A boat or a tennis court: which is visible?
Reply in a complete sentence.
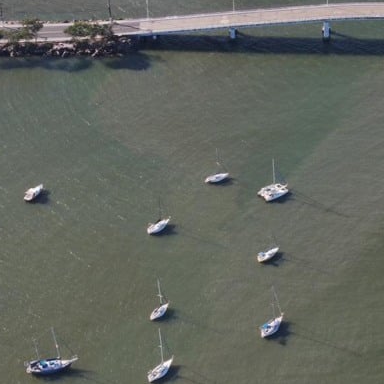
The one in the frame is a boat.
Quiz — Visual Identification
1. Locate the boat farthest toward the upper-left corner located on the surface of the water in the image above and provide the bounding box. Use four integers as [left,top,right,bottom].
[21,183,43,200]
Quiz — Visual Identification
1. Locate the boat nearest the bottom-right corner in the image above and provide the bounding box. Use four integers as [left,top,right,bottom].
[257,293,282,339]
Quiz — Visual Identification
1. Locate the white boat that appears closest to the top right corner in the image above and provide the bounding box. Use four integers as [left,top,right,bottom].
[257,159,292,202]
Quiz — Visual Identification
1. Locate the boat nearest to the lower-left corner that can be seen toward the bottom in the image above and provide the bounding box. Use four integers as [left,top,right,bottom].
[24,329,79,374]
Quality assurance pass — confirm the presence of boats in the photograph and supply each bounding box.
[145,197,170,235]
[254,226,280,264]
[21,183,43,200]
[144,327,175,383]
[257,293,282,339]
[24,329,79,374]
[257,159,292,202]
[146,282,170,321]
[203,167,230,184]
